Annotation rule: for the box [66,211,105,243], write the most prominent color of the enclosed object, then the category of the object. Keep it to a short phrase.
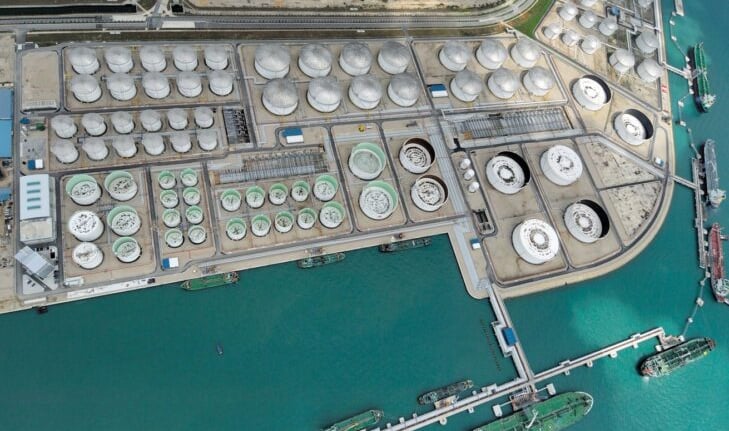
white storage tank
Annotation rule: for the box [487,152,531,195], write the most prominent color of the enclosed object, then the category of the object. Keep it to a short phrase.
white storage tank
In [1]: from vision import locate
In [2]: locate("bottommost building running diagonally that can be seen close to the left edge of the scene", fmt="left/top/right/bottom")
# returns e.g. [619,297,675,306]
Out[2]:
[16,246,58,280]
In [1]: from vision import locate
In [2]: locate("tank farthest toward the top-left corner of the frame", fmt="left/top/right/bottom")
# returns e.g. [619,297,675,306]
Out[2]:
[69,45,103,75]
